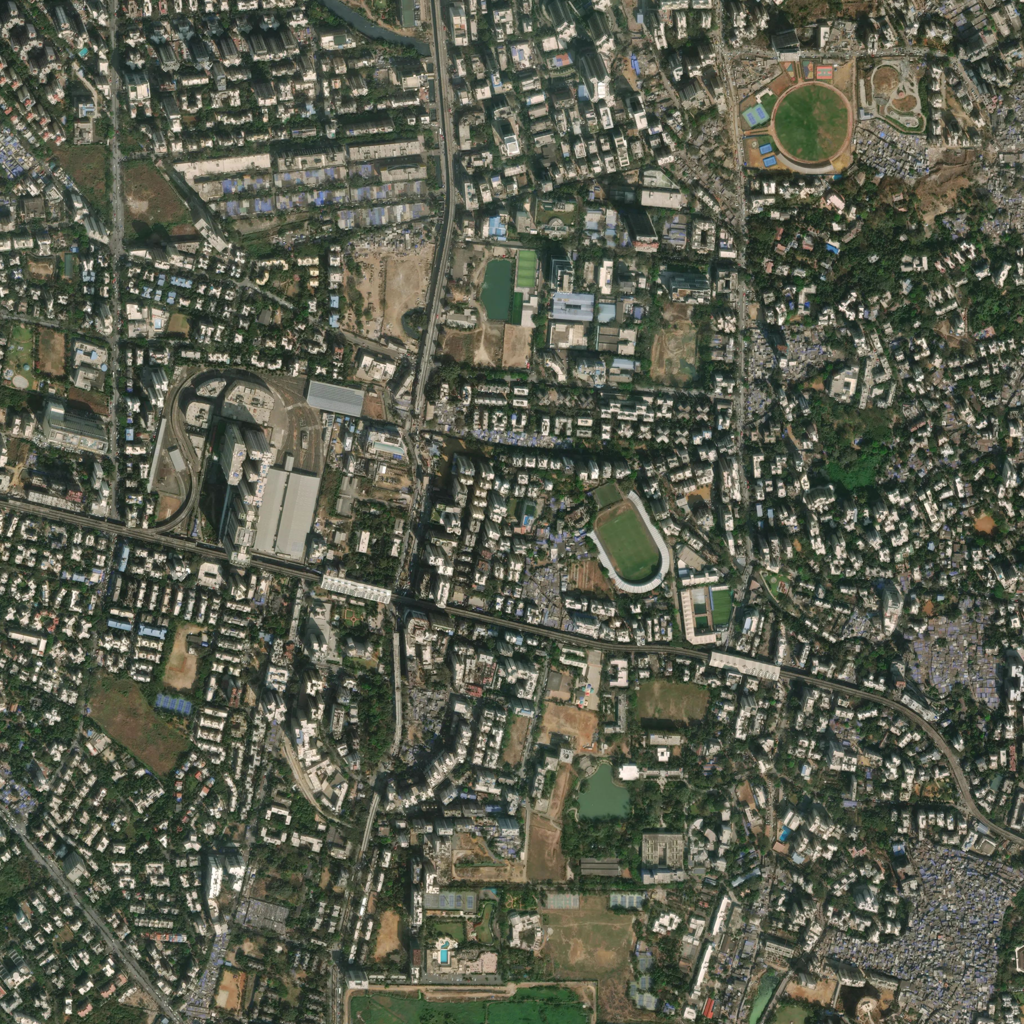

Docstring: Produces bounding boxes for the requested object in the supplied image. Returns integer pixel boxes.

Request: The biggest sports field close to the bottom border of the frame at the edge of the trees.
[541,910,634,983]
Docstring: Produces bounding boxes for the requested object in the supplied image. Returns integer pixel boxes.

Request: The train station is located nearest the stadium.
[709,651,780,678]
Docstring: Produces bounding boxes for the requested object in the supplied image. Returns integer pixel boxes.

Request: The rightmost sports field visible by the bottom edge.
[785,976,837,1009]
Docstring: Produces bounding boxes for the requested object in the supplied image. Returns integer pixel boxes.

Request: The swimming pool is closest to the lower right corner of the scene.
[777,821,793,843]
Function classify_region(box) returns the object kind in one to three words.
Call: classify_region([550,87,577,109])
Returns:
building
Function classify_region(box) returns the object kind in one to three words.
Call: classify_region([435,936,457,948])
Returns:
swimming pool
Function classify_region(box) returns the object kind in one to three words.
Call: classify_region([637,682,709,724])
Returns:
sports field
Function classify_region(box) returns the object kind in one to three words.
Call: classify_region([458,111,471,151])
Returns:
shed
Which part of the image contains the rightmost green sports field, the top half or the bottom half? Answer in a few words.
top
